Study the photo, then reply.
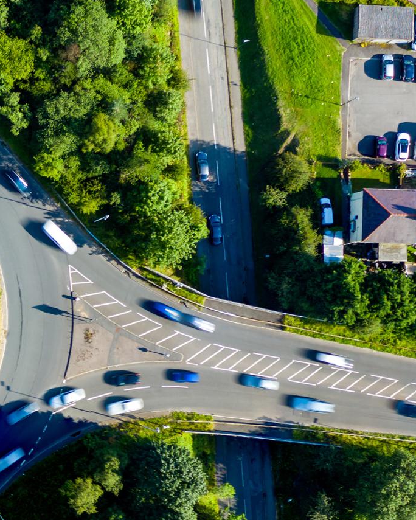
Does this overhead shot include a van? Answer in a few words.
Yes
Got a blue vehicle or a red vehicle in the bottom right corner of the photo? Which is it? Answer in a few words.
blue vehicle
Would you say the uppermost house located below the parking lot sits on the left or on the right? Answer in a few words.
right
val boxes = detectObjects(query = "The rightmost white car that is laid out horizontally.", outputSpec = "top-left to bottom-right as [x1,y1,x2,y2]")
[315,351,350,369]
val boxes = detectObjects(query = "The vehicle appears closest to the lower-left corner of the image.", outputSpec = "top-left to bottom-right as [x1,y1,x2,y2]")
[0,446,25,473]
